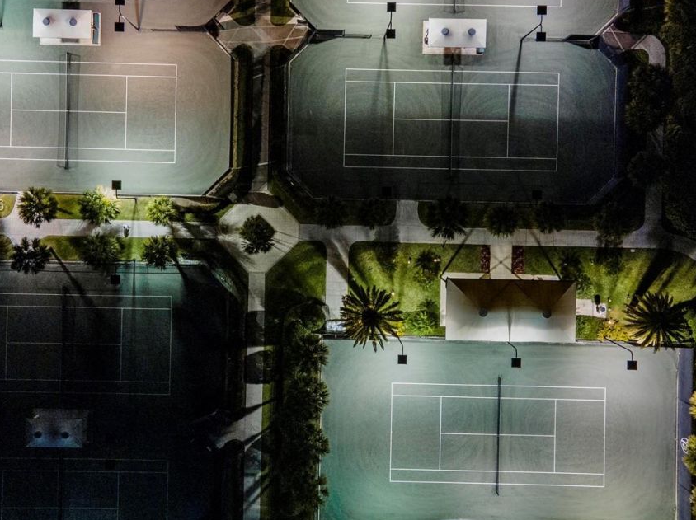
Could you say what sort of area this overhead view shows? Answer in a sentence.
This image shows a sports ground.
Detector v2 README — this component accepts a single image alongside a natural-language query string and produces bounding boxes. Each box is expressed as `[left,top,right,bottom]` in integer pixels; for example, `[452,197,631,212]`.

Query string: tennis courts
[0,421,225,520]
[0,26,232,197]
[290,0,619,35]
[319,339,680,520]
[0,258,229,429]
[287,32,618,204]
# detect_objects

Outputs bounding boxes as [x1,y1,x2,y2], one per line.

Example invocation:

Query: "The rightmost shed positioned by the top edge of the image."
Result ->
[424,16,487,58]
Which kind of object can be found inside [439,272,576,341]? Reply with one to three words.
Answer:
building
